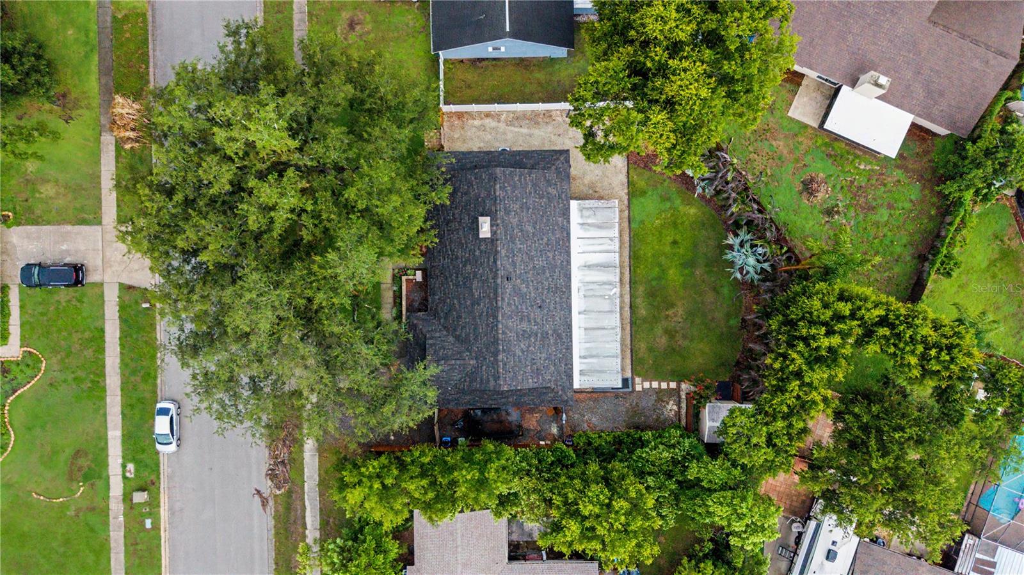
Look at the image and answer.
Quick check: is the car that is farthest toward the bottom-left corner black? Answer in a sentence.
No, the car that is farthest toward the bottom-left corner is white.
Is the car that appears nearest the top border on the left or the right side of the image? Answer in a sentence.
You can find the car that appears nearest the top border on the left side of the picture.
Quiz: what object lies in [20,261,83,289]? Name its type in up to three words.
car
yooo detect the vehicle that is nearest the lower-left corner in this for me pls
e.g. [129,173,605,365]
[153,399,182,453]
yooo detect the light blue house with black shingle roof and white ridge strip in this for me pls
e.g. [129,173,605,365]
[431,0,575,61]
